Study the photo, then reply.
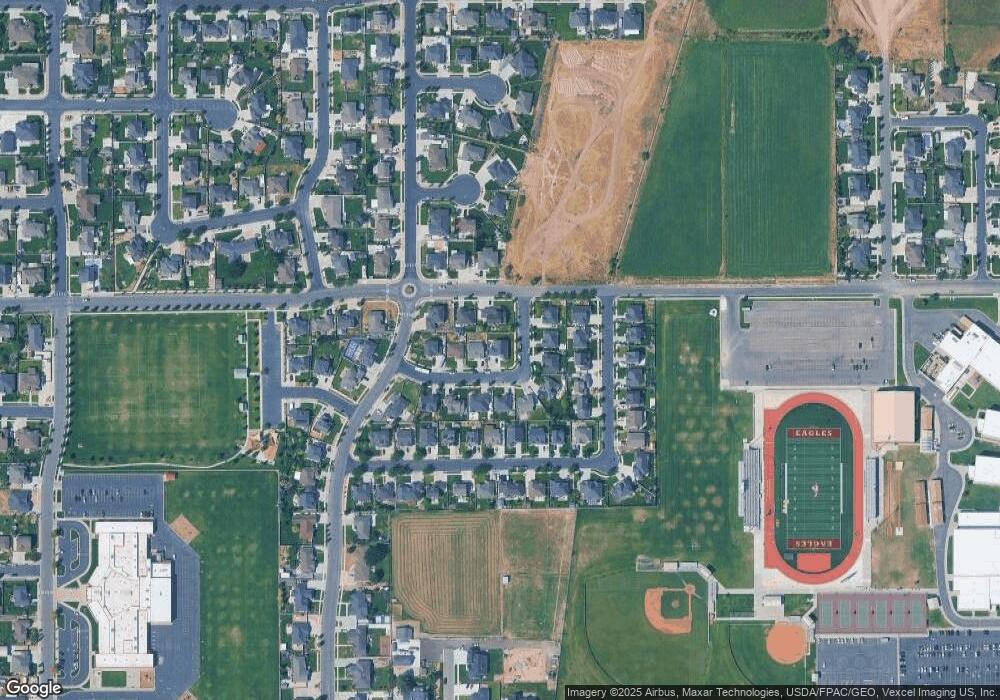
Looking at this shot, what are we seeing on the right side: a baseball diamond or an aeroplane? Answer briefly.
baseball diamond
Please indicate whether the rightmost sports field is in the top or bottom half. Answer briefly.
bottom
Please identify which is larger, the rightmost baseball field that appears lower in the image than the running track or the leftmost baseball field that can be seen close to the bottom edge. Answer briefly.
the leftmost baseball field that can be seen close to the bottom edge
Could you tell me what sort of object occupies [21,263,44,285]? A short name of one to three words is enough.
house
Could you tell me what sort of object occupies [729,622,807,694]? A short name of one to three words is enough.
baseball field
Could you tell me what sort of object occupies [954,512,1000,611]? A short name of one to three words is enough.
building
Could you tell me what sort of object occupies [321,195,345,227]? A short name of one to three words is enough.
house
